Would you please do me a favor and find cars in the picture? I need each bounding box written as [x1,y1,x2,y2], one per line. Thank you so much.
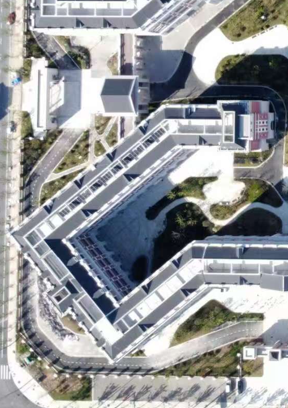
[236,380,243,393]
[225,380,231,394]
[7,11,14,24]
[5,121,11,134]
